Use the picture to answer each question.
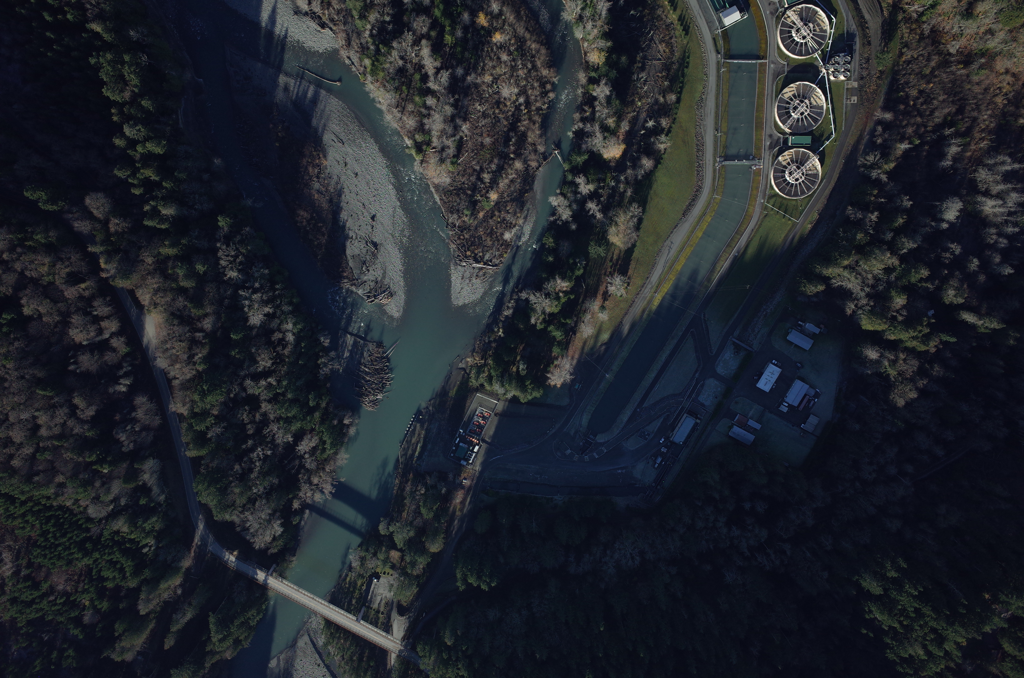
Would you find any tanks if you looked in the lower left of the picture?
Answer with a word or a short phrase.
No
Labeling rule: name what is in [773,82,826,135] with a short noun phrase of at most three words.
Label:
storage tank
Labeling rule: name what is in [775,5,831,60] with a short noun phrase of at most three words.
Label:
storage tank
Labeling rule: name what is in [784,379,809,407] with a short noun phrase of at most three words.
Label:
building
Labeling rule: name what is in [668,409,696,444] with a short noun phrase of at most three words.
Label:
building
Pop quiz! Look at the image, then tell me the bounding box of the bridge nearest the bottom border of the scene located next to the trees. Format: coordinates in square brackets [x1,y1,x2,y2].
[219,544,412,660]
